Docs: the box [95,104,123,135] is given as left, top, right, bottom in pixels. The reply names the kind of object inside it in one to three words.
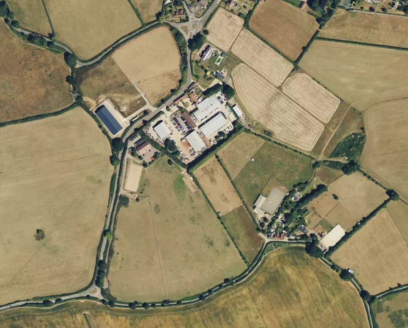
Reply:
barn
